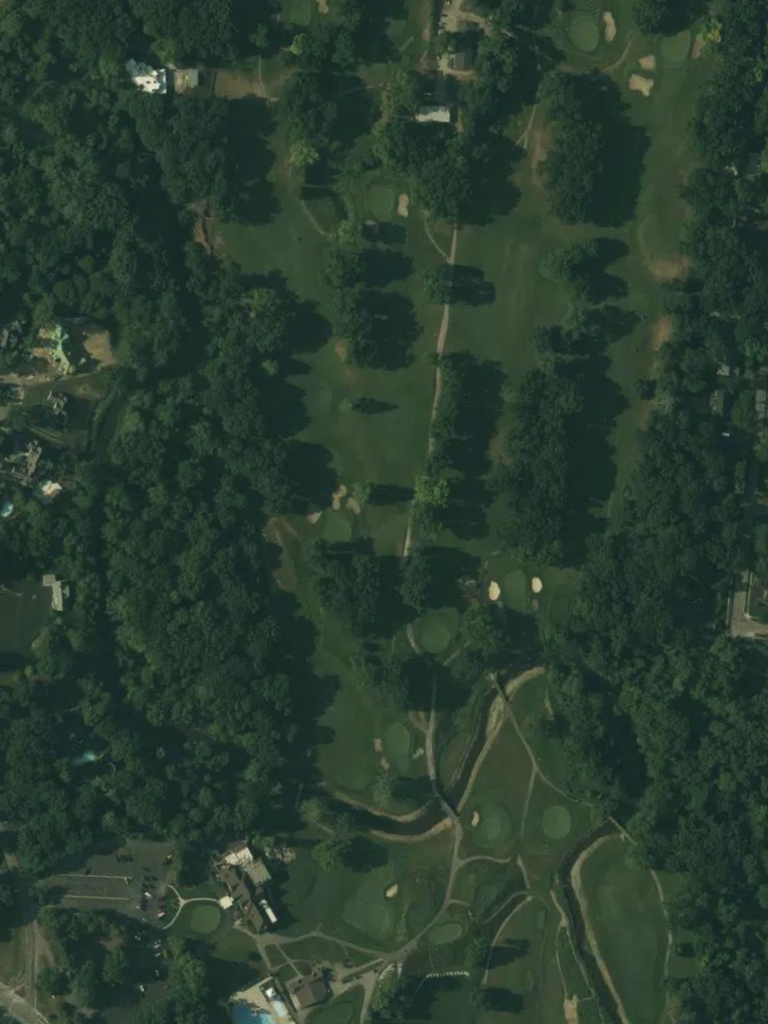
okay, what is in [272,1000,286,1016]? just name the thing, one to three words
swimming pool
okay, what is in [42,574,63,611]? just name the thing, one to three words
house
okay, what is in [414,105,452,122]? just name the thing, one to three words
shed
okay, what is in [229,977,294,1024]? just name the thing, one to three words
swimming pool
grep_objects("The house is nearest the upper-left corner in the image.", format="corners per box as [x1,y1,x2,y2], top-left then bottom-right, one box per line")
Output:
[131,61,166,94]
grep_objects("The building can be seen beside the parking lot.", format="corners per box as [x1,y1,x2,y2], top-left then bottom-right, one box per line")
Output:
[219,840,277,936]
